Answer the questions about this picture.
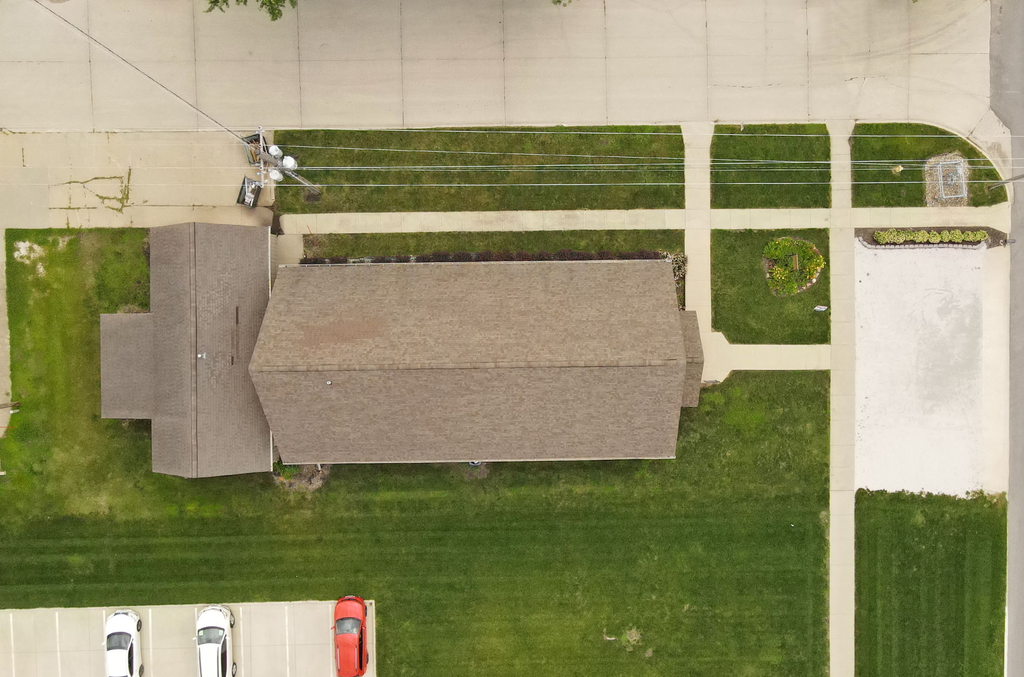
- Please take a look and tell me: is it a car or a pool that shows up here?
car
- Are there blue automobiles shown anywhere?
No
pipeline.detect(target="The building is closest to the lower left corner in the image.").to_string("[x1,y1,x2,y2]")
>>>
[101,221,284,478]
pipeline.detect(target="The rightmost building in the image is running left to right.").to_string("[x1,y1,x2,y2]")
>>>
[248,258,703,471]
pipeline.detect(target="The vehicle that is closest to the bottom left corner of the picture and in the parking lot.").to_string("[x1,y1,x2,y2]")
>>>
[98,609,144,677]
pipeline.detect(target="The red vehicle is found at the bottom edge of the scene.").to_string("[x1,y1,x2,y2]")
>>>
[328,596,368,677]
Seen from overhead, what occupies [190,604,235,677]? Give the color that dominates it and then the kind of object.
white car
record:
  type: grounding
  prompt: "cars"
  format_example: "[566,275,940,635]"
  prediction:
[328,596,368,677]
[190,604,235,677]
[98,609,144,677]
